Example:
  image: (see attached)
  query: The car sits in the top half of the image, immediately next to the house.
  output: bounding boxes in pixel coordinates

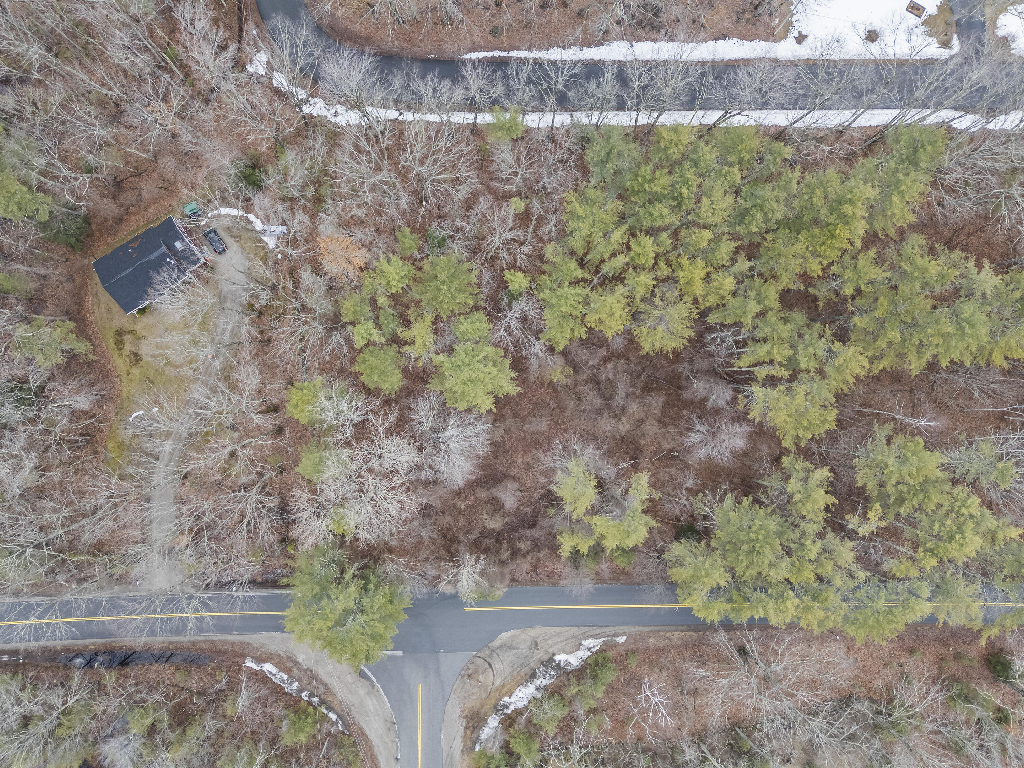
[205,227,227,256]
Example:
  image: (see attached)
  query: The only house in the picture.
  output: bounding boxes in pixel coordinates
[92,215,211,322]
